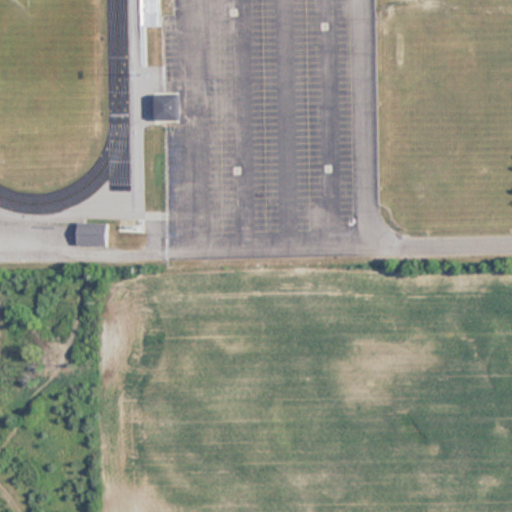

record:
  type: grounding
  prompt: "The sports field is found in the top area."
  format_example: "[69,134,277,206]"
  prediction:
[0,0,109,194]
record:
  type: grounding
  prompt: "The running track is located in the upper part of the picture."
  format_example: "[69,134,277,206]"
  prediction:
[0,0,130,214]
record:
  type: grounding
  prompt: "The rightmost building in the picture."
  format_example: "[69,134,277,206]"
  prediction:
[153,94,178,120]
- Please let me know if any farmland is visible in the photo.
Yes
